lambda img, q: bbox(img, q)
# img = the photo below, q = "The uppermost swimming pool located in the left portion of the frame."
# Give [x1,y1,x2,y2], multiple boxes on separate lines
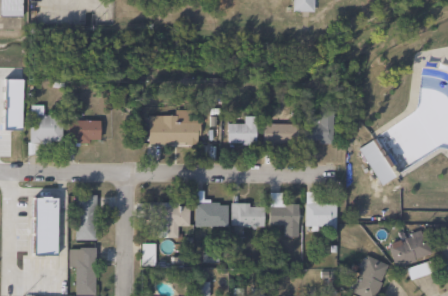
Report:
[160,239,176,256]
